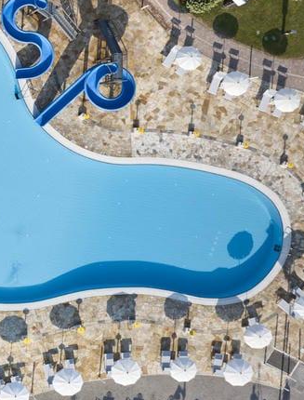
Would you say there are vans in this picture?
No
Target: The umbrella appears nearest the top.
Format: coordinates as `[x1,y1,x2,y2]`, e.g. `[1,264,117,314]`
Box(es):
[172,43,204,73]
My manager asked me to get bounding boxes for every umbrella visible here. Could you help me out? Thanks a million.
[216,68,248,99]
[108,357,139,388]
[222,354,254,386]
[239,316,270,349]
[51,365,83,397]
[267,84,300,114]
[166,353,198,384]
[0,379,29,400]
[172,43,204,73]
